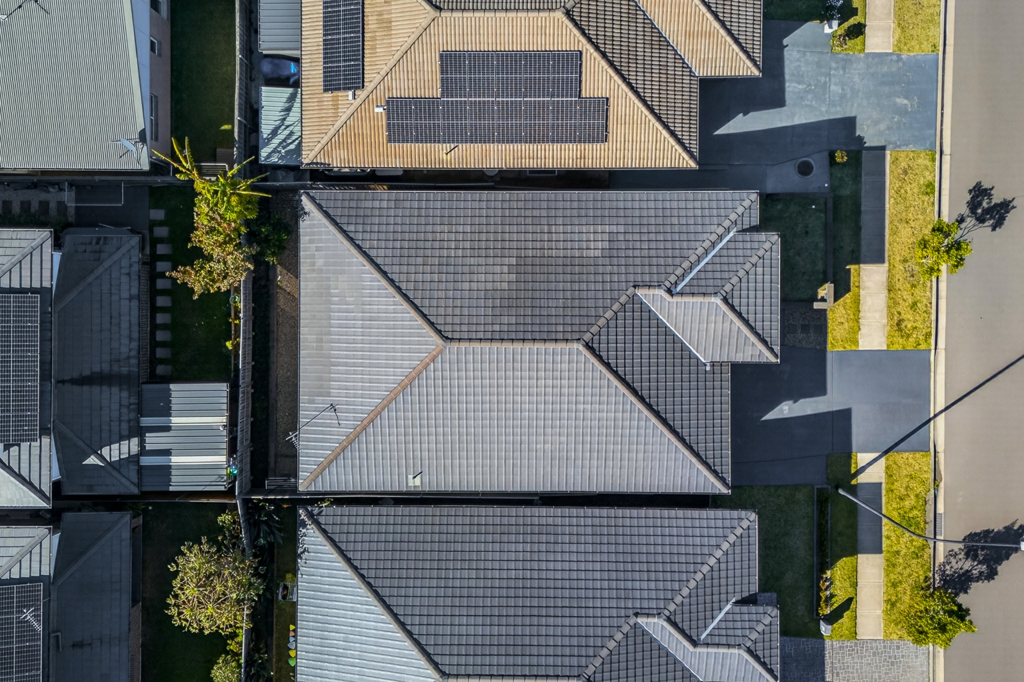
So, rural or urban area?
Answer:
urban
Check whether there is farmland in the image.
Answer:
No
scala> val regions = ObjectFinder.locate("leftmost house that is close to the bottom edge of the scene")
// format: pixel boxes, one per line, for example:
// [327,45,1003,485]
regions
[0,508,152,682]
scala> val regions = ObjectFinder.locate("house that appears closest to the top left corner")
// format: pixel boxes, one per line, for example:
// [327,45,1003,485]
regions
[0,0,171,172]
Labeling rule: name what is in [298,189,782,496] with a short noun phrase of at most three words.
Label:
house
